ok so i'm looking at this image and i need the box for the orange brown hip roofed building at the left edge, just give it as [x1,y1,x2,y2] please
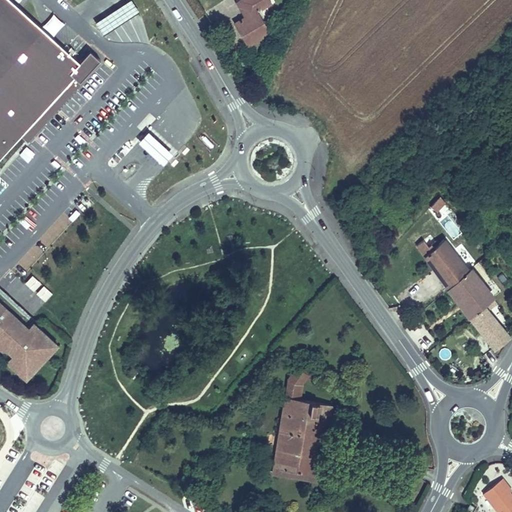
[0,295,60,382]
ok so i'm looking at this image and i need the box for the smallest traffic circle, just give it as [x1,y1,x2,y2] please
[24,390,81,455]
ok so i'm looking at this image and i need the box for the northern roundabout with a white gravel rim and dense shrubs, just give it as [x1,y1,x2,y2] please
[225,118,312,210]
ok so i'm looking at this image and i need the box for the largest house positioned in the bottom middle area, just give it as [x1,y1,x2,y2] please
[272,400,334,484]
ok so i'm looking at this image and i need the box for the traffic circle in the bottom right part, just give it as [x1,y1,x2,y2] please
[429,380,512,486]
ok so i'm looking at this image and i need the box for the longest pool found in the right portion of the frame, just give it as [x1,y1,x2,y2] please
[441,216,460,238]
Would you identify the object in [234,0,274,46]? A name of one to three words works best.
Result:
house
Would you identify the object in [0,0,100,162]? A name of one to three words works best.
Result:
building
